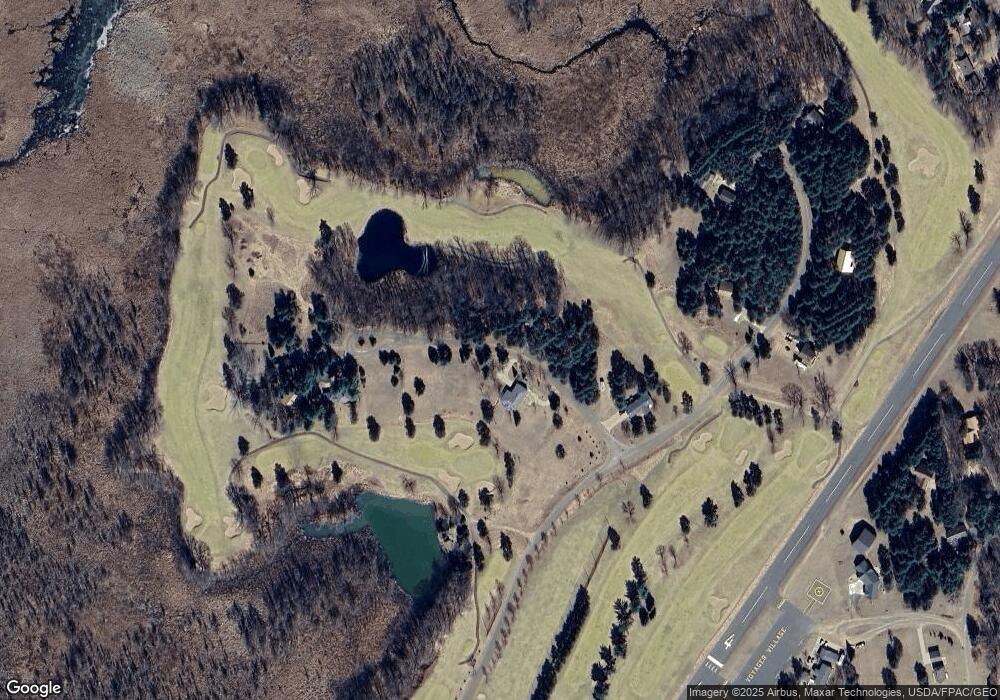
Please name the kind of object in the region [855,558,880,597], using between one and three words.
house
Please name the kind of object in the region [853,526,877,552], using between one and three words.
hangar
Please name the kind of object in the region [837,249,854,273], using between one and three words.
house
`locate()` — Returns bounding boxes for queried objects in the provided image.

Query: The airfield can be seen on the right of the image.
[680,231,1000,700]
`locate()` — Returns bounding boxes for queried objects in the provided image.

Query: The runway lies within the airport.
[680,231,1000,700]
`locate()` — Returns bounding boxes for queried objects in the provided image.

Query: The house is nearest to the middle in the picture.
[501,380,527,410]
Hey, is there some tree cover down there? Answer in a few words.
Yes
